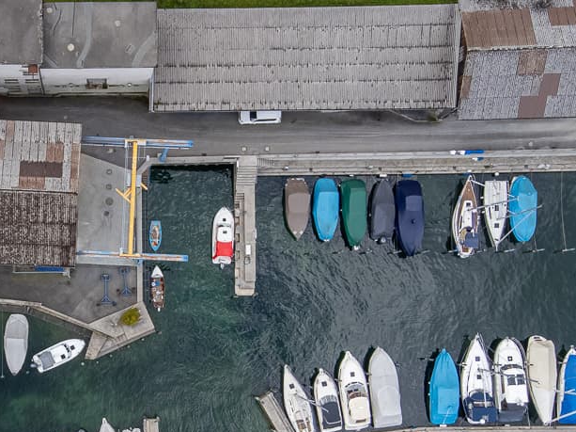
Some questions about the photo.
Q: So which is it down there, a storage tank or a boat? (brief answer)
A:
boat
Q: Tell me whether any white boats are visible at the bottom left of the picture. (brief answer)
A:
Yes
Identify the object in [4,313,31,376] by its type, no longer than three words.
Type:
boat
